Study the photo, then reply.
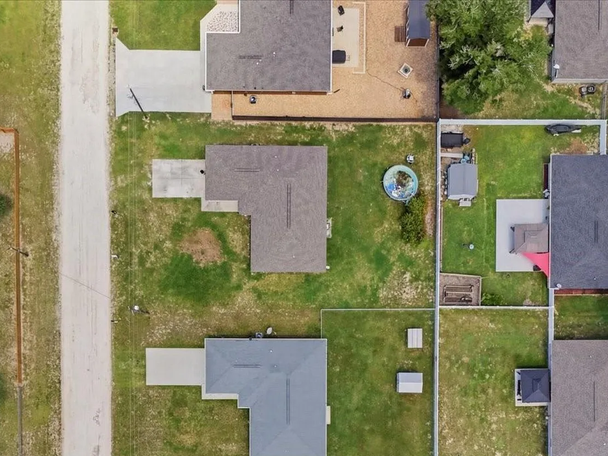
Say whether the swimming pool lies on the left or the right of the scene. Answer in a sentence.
It is on the right.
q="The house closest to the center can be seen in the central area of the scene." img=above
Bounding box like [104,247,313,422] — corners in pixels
[206,144,327,273]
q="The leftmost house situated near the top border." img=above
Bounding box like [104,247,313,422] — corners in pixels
[206,0,331,95]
